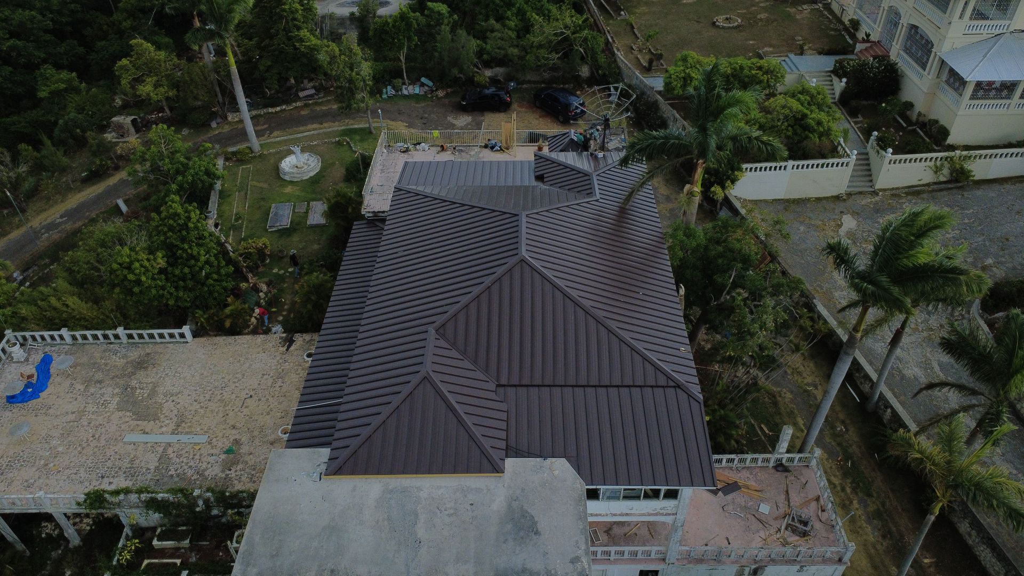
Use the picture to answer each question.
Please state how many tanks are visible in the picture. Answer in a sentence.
The picture shows no tanks.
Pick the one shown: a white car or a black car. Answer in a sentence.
I can see a black car in this picture.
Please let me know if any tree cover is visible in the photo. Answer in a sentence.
Yes, tree cover can be seen from above here.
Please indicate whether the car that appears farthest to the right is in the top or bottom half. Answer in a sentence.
It is in the top half that the car that appears farthest to the right appears.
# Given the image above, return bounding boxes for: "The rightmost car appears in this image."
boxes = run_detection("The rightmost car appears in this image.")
[534,86,588,123]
